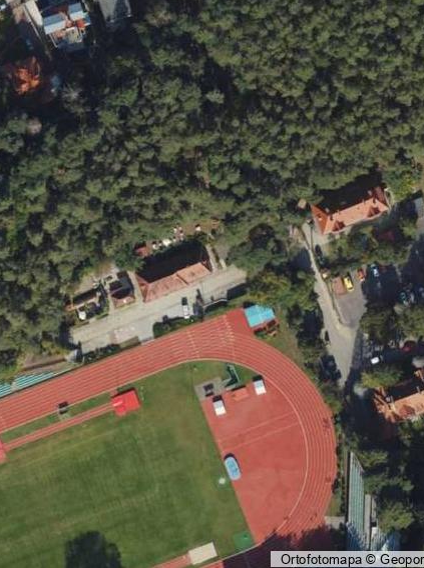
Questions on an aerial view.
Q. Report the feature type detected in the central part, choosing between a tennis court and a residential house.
residential house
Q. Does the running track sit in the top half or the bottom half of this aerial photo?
bottom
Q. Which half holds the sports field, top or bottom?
bottom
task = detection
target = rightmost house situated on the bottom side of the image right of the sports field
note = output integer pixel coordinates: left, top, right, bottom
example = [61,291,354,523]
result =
[369,362,424,425]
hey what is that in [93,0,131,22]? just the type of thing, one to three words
house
